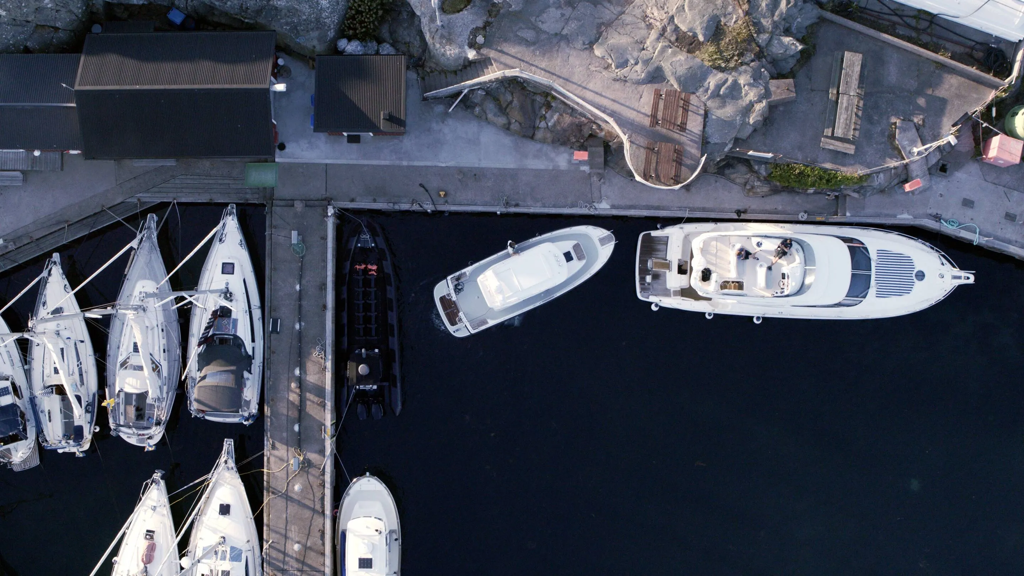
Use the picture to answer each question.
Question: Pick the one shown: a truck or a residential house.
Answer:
residential house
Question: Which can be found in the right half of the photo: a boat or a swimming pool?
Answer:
boat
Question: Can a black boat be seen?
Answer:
Yes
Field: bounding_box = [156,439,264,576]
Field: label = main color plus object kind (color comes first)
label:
white boat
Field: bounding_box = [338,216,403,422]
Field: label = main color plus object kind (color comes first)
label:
black boat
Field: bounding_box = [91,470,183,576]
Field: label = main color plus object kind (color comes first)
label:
white boat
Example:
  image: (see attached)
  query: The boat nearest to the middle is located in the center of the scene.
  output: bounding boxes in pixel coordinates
[434,225,618,337]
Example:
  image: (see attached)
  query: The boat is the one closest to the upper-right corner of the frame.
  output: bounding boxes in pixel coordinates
[635,222,976,320]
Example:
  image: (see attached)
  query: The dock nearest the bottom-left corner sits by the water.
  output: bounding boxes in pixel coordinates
[264,203,339,576]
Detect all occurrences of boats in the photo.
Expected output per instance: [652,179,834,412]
[0,252,103,454]
[335,471,402,576]
[91,470,183,576]
[156,439,264,576]
[24,208,186,447]
[338,216,403,422]
[635,222,976,320]
[434,225,618,337]
[138,204,265,421]
[0,288,42,471]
